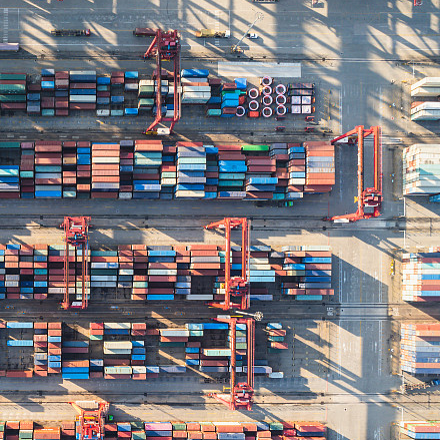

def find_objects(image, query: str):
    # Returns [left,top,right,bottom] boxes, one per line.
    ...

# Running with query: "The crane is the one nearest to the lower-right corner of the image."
[207,317,256,411]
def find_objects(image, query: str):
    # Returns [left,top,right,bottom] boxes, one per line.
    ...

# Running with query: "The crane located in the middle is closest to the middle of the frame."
[202,214,249,312]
